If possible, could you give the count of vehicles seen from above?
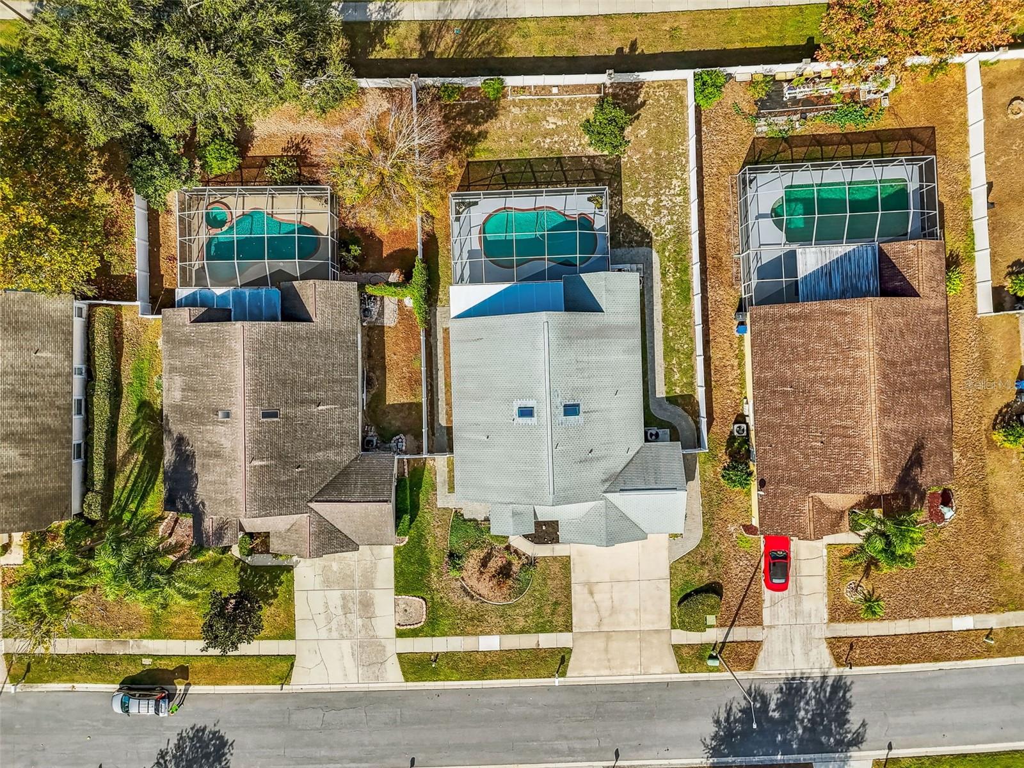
two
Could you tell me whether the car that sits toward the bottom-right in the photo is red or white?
red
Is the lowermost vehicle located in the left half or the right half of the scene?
left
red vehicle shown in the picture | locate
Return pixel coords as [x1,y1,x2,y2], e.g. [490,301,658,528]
[762,538,791,594]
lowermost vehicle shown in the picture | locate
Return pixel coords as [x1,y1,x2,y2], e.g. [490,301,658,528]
[115,687,171,717]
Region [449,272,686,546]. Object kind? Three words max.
house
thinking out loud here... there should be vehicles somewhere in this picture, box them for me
[762,538,791,594]
[115,687,171,717]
